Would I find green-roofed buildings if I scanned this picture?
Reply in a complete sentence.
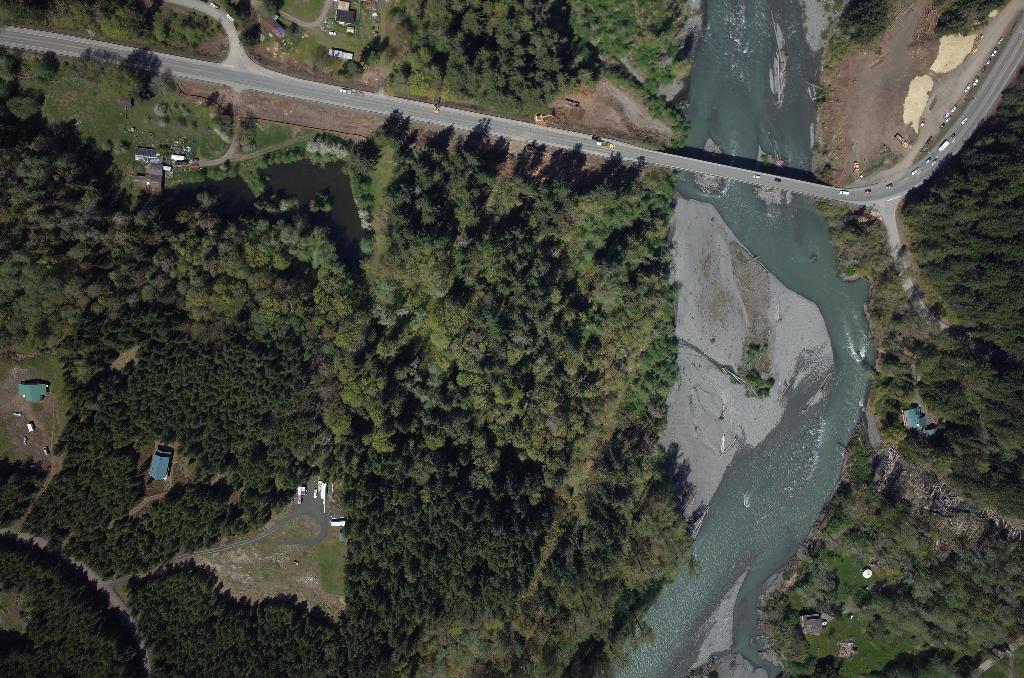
Yes, there's a green-roofed building down there.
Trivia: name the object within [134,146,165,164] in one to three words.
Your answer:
barn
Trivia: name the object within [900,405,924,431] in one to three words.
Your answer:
house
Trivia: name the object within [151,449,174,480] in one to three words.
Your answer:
house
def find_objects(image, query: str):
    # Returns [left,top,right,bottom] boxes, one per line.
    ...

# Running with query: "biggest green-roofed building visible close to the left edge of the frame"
[20,384,49,402]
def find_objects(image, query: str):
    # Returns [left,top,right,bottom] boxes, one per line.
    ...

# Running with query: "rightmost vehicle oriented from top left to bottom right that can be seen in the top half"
[893,132,909,148]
